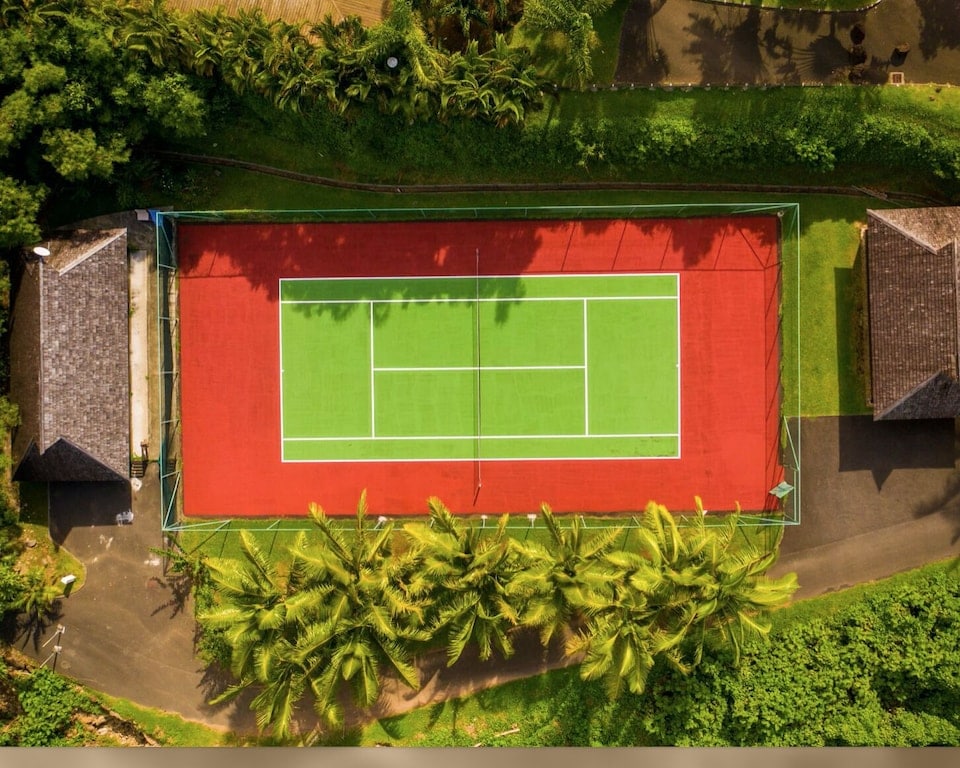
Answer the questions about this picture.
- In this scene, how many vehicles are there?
zero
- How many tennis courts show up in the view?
1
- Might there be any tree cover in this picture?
Yes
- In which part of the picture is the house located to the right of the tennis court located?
right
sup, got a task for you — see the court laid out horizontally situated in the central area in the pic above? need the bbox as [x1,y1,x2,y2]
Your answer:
[174,212,786,520]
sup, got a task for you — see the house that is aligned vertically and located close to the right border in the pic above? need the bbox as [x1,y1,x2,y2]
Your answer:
[860,205,960,423]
